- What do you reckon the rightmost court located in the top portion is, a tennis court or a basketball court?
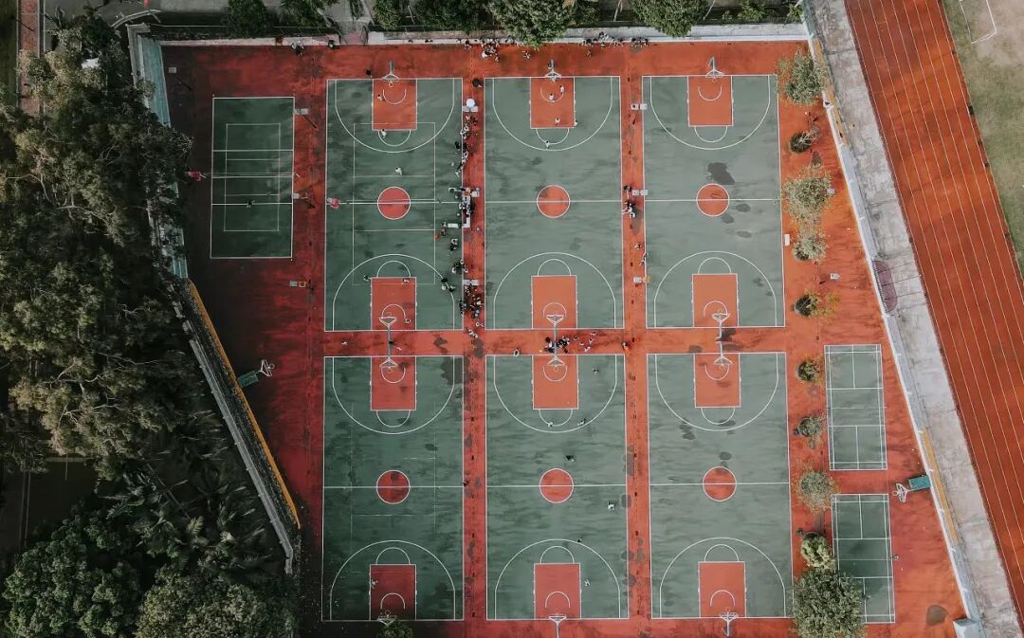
basketball court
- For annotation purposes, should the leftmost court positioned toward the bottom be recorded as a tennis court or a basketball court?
basketball court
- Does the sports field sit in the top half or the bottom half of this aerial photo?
top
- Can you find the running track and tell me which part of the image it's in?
right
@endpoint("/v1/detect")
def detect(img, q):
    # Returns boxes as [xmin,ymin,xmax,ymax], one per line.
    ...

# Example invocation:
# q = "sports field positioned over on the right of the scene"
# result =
[946,0,1024,271]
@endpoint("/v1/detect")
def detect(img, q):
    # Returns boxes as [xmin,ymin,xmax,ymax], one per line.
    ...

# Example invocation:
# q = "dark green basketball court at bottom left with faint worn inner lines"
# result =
[322,355,464,621]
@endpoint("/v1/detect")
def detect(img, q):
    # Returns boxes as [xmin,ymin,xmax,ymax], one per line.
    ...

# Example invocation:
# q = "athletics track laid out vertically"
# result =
[845,0,1024,638]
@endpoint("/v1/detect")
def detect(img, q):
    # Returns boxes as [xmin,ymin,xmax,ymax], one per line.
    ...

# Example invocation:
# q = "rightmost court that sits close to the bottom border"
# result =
[832,493,896,623]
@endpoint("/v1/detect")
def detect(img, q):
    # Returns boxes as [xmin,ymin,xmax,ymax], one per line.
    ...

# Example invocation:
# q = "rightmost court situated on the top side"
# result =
[641,75,785,329]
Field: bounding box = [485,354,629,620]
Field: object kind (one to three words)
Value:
basketball court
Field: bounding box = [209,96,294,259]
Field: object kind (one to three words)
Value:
sports court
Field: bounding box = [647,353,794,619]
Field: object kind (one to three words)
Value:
basketball court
